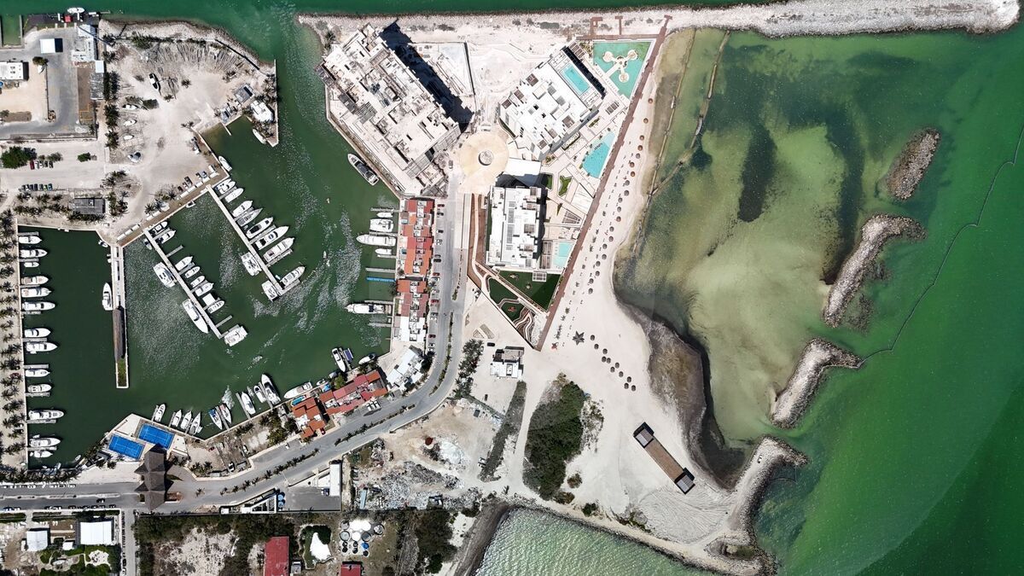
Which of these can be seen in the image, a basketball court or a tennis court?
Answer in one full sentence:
It is a tennis court that can be seen here.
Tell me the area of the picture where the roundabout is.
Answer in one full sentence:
The roundabout is located in the top region of the scene.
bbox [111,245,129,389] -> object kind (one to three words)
pier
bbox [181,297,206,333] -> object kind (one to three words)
boat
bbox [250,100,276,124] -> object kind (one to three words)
house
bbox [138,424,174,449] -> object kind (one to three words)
tennis court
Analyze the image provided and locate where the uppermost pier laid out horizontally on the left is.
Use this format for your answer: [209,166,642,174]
[24,11,111,38]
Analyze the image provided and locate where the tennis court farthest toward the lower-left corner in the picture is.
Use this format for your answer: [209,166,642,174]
[106,435,145,459]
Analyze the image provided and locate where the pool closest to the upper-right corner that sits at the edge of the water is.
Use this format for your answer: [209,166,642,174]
[593,40,655,99]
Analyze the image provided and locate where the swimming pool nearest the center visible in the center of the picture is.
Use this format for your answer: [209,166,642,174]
[553,240,576,271]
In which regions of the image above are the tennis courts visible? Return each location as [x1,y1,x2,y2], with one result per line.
[106,435,145,459]
[138,424,174,449]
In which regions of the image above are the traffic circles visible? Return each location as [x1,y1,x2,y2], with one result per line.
[458,131,509,183]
